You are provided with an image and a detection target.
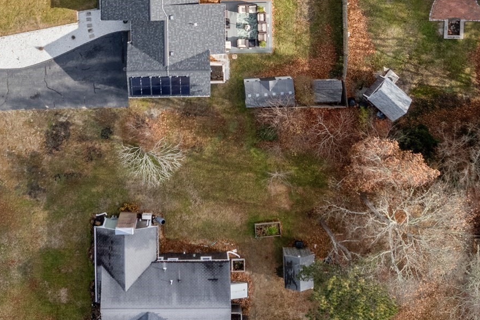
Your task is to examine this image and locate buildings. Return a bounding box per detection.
[244,76,294,108]
[362,74,412,122]
[94,210,248,320]
[312,80,342,102]
[98,0,225,98]
[282,247,314,292]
